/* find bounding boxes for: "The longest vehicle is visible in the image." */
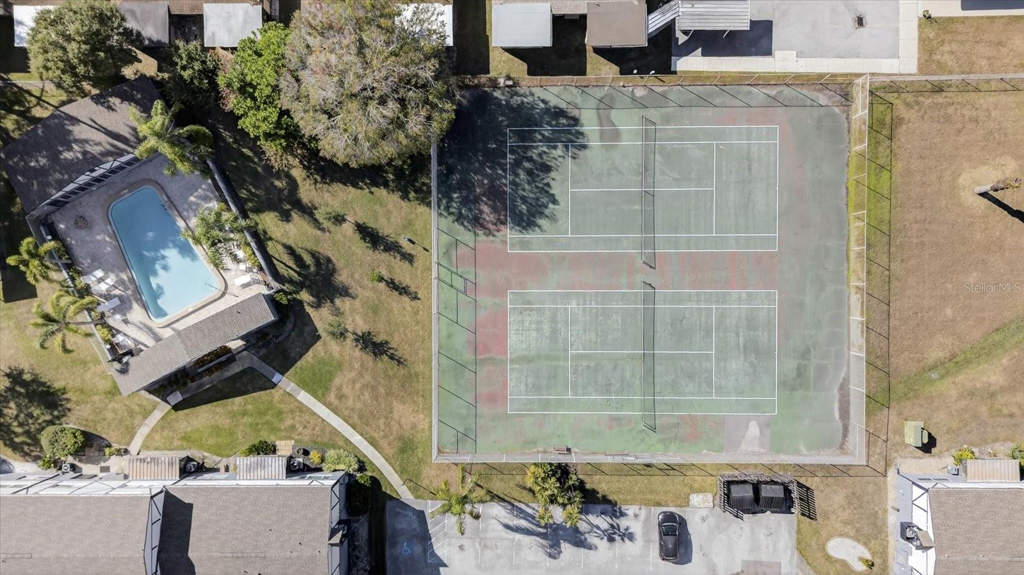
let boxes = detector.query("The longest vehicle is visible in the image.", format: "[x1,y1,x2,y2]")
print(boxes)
[658,513,683,564]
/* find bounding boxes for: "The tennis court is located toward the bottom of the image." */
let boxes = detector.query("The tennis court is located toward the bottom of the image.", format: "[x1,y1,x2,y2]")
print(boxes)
[508,291,779,414]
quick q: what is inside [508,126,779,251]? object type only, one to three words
tennis court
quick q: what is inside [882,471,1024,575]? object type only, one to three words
house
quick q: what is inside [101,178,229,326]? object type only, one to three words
swimming pool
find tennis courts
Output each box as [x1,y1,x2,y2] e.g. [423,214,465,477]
[508,291,779,414]
[508,126,779,251]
